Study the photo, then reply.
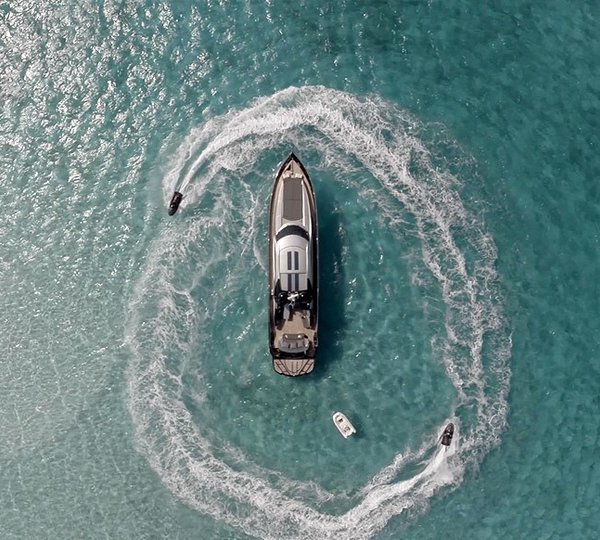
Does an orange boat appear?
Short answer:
No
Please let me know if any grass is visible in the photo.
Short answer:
No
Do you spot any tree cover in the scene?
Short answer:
No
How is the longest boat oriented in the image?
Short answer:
from top to bottom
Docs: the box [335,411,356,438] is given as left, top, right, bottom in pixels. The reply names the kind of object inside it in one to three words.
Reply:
boat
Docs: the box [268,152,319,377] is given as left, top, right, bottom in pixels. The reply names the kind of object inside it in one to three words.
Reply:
boat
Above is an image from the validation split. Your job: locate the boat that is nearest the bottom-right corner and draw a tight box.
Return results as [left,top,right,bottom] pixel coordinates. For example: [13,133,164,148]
[441,422,454,445]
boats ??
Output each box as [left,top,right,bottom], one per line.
[268,152,319,377]
[441,422,454,445]
[335,411,356,438]
[169,193,183,216]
